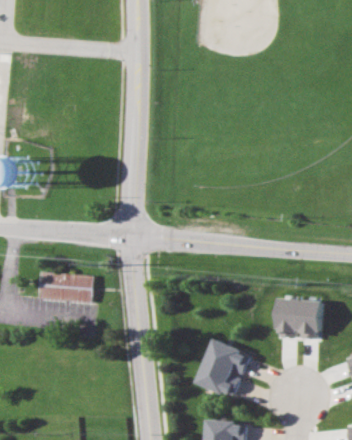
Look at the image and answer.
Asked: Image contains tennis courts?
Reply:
No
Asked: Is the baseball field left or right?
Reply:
right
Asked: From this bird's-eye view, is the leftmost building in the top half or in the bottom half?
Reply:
bottom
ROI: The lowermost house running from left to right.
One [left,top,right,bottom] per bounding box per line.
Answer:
[202,419,251,440]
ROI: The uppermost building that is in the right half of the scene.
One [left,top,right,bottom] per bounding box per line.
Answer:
[272,298,325,338]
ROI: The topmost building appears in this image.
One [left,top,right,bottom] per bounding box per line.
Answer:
[36,272,96,306]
